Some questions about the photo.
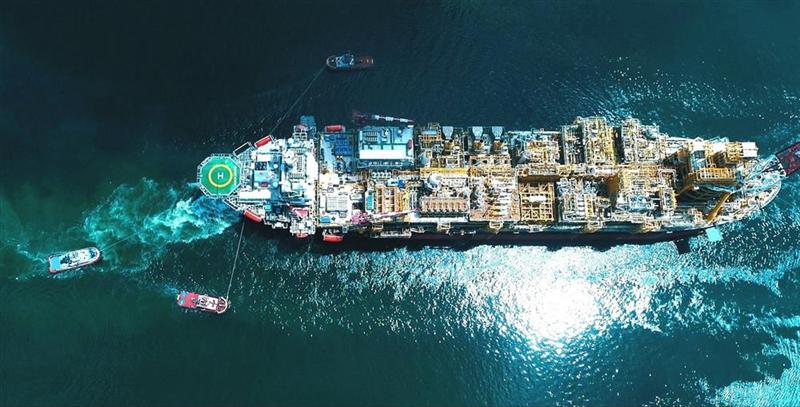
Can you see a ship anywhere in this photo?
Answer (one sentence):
Yes, the image includes a ship.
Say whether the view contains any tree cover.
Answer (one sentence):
No, the scene doesn't show any tree cover.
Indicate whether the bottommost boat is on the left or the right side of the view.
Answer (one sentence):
You can find the bottommost boat on the left side of the picture.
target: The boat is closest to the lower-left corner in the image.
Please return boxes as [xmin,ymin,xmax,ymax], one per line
[45,247,98,273]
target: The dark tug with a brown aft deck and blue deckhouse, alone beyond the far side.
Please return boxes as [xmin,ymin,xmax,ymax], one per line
[328,50,372,68]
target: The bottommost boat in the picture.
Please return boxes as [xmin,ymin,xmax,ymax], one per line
[173,288,226,311]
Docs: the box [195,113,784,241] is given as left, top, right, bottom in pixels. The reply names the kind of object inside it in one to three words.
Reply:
ship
